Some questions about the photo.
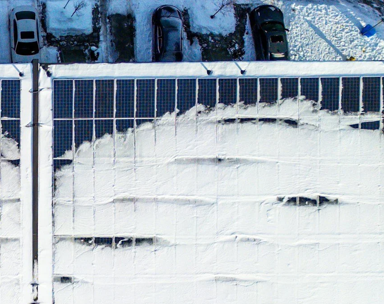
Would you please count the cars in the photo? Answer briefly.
three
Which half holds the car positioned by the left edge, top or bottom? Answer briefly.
top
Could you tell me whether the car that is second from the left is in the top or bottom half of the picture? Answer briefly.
top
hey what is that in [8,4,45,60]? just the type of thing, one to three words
car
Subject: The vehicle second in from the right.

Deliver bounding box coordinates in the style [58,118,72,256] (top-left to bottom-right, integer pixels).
[149,7,189,60]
